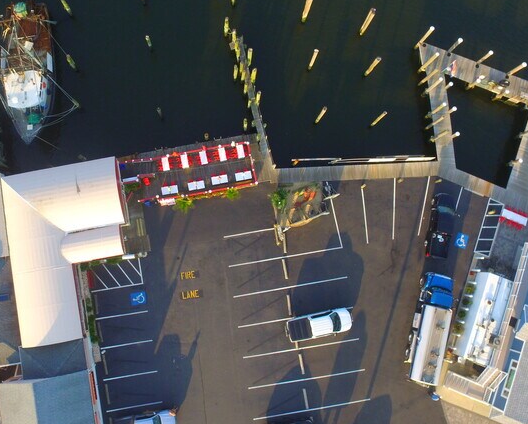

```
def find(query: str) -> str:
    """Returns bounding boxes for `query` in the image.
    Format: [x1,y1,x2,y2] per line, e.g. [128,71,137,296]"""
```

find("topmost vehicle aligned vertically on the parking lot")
[429,194,464,261]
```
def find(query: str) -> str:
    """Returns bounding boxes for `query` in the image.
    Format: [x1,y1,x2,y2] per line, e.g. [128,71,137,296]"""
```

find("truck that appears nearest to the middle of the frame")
[285,309,353,344]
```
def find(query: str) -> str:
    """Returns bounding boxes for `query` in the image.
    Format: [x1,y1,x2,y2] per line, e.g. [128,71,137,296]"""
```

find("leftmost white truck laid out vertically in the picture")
[407,272,458,384]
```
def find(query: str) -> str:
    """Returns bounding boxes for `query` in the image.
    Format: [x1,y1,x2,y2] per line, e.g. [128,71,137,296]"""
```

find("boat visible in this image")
[0,5,59,144]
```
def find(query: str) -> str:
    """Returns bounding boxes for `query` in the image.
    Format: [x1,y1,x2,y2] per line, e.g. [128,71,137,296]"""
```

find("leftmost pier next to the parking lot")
[237,36,274,168]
